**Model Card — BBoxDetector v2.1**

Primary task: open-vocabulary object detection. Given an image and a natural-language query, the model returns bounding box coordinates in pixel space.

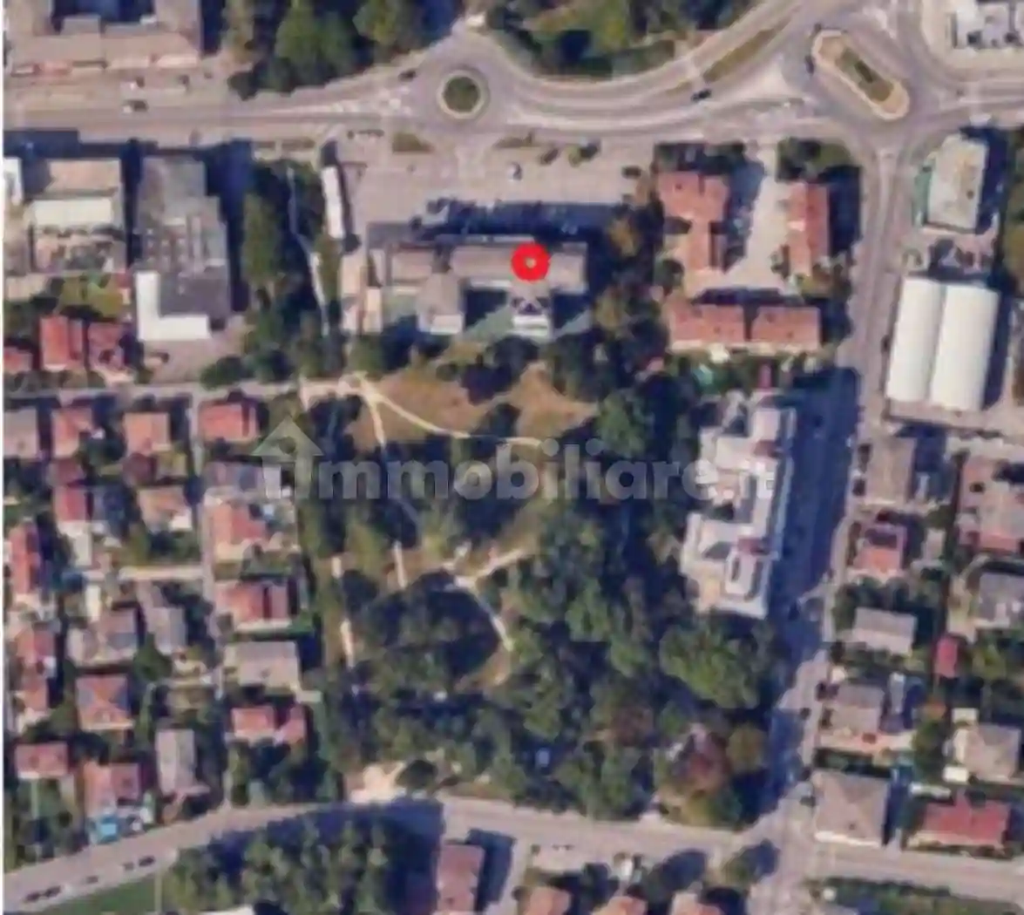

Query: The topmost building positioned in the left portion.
[9,0,201,78]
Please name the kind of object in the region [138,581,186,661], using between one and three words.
house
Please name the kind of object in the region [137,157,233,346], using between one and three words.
building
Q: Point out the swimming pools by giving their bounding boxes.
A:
[93,816,119,840]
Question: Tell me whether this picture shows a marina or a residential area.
residential area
